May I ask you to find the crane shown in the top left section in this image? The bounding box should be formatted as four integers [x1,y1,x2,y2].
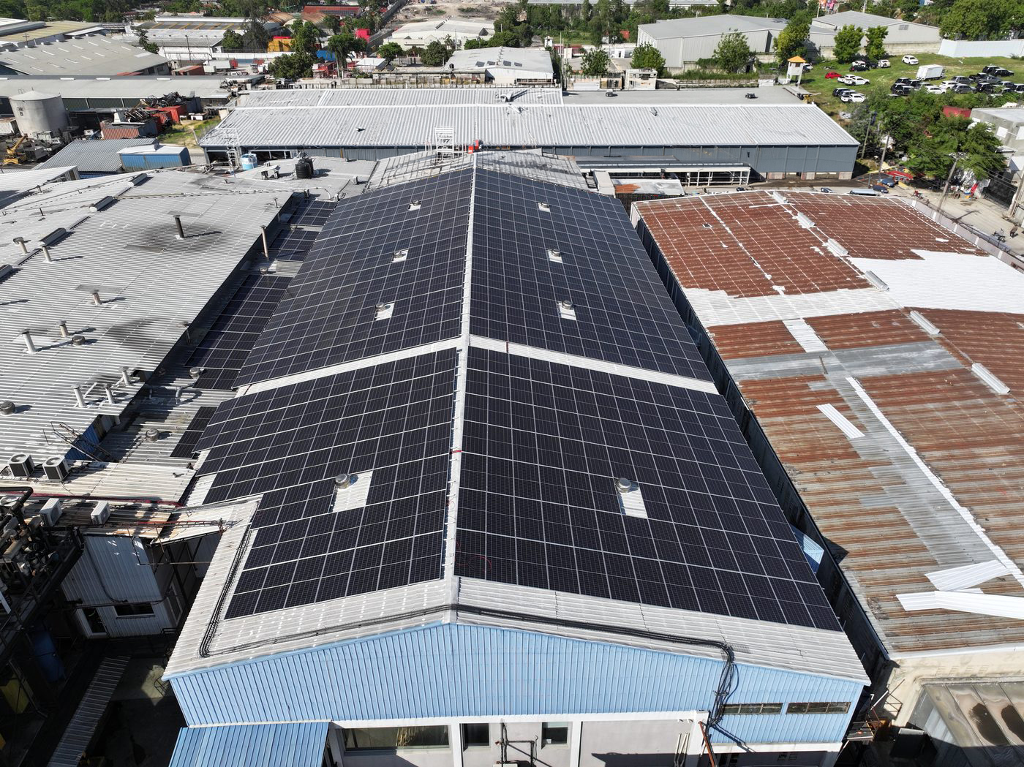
[0,126,35,164]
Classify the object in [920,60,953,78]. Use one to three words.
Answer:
vehicle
